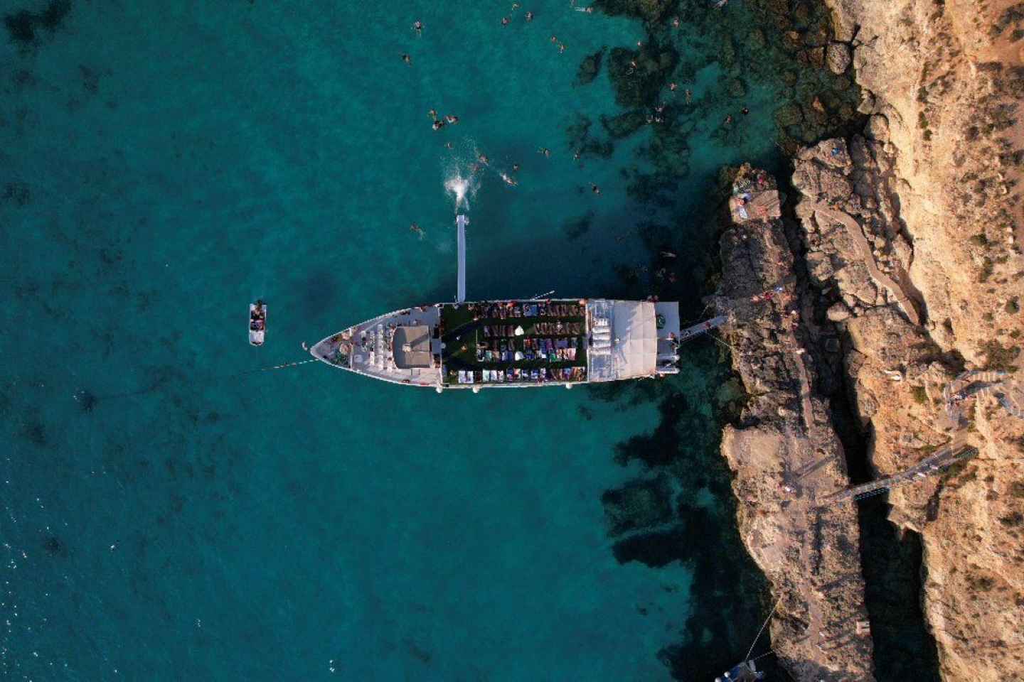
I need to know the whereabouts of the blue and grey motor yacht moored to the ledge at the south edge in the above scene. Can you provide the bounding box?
[710,649,766,682]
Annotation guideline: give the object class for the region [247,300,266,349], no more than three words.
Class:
boat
